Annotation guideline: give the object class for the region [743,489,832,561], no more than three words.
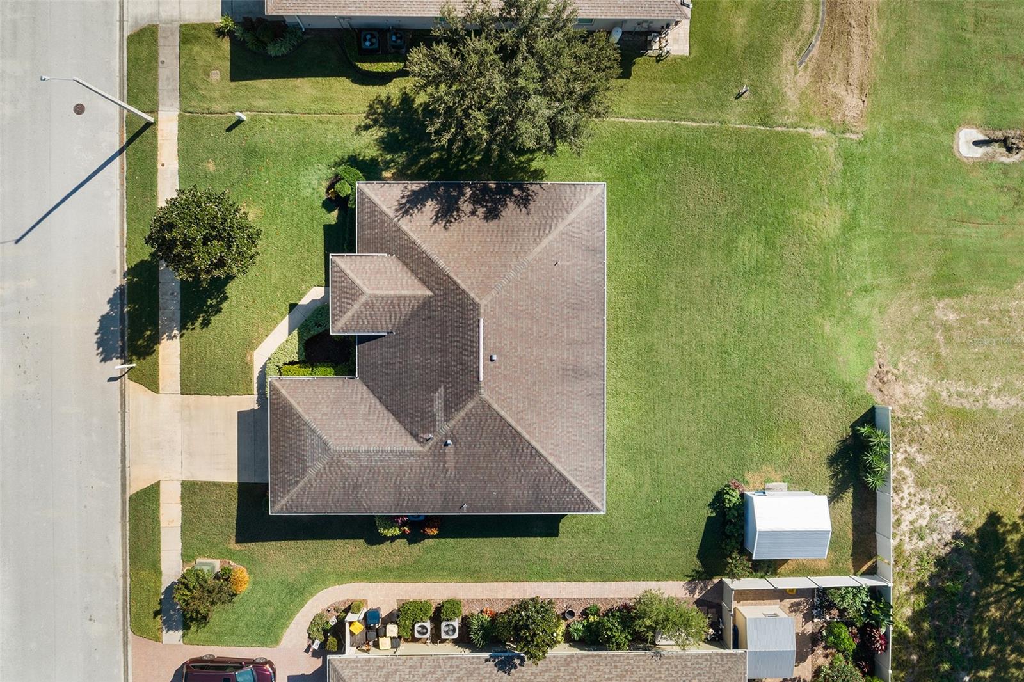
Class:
shed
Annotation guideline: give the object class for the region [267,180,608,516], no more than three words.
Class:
house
